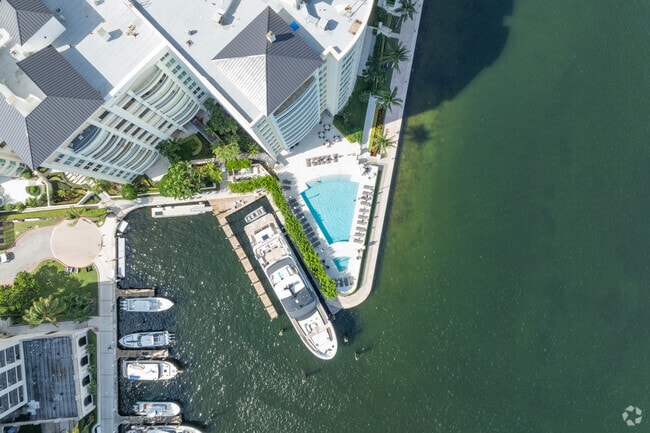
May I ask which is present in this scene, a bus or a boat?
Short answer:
boat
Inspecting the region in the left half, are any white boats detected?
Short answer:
Yes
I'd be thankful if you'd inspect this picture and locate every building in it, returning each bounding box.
[0,0,374,182]
[0,326,96,433]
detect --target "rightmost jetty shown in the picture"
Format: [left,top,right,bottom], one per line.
[216,215,277,319]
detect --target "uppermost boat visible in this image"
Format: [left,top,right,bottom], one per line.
[243,207,265,222]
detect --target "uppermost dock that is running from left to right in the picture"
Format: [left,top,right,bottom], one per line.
[152,204,213,218]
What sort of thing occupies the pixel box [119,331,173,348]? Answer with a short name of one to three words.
boat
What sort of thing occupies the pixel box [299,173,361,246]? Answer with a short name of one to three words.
swimming pool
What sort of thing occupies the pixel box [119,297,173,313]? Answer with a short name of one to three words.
boat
